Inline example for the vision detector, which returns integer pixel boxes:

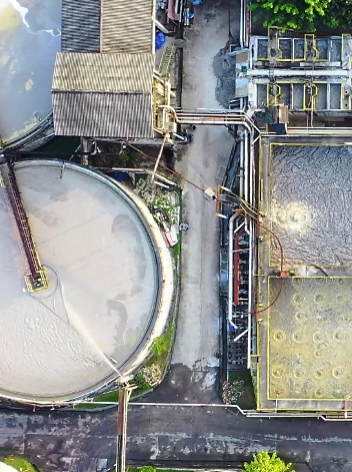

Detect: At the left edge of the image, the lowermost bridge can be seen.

[0,160,50,292]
